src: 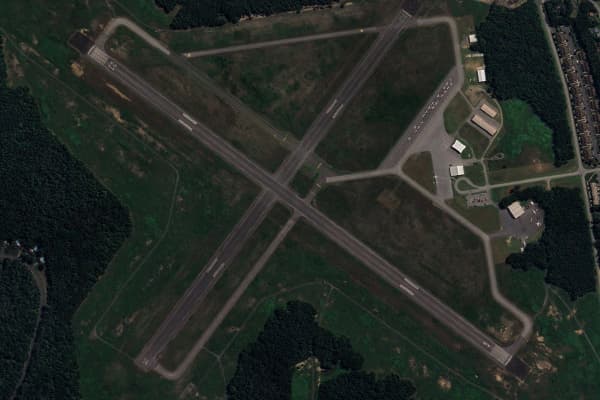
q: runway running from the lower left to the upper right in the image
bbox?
[138,8,414,368]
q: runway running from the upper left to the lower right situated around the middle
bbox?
[87,43,513,367]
